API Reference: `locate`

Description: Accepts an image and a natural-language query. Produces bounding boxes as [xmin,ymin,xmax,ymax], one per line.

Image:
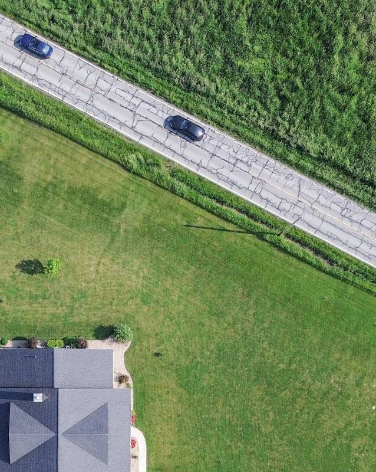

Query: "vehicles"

[20,34,55,61]
[169,116,205,143]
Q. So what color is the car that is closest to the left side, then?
blue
